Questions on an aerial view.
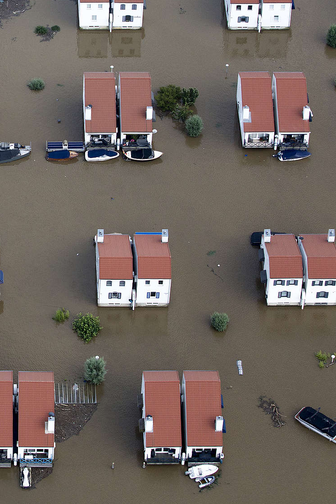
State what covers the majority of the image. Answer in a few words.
water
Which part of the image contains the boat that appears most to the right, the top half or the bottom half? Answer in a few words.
bottom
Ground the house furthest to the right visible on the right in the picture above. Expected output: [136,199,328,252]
[298,228,336,306]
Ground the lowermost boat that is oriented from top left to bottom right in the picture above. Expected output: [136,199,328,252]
[295,407,336,444]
